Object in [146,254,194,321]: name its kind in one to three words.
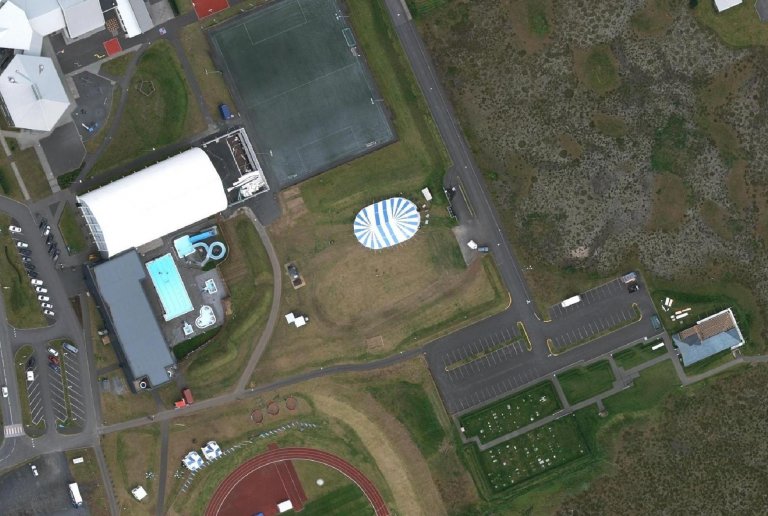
swimming pool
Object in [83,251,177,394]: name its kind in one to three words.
building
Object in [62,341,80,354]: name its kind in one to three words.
vehicle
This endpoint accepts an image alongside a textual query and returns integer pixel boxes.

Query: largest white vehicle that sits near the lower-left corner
[69,482,82,506]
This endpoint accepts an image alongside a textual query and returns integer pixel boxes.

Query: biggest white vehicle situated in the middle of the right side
[561,294,581,308]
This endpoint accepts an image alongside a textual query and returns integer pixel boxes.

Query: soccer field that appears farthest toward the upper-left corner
[206,0,398,189]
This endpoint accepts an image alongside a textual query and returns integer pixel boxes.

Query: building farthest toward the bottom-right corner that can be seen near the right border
[673,306,746,367]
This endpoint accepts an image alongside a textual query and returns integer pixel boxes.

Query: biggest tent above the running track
[350,193,426,254]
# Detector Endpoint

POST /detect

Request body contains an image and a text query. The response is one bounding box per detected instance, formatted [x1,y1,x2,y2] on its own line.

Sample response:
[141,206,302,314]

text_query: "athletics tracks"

[205,443,388,516]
